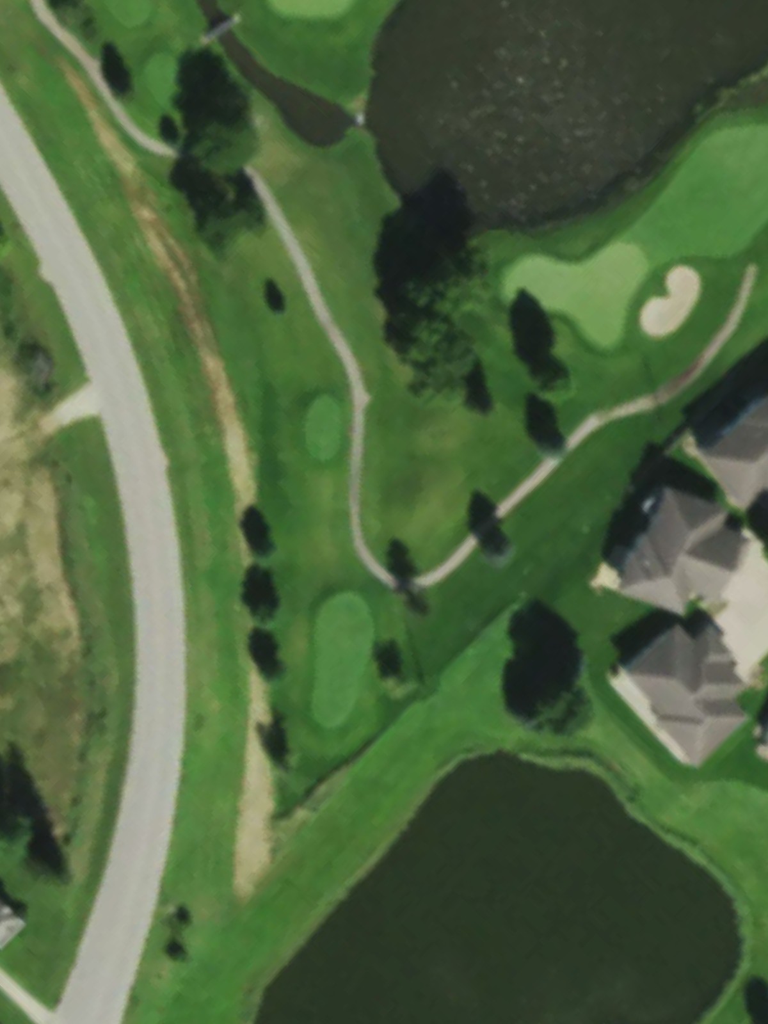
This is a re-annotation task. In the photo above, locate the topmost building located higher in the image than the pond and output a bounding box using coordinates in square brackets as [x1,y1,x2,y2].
[702,401,768,510]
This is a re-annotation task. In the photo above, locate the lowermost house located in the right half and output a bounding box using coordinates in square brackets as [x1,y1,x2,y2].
[627,623,747,766]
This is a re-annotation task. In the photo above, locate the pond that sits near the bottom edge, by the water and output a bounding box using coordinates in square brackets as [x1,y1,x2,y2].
[254,750,741,1024]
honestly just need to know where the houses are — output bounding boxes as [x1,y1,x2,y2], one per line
[620,488,746,614]
[0,897,25,948]
[627,623,747,766]
[702,401,768,510]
